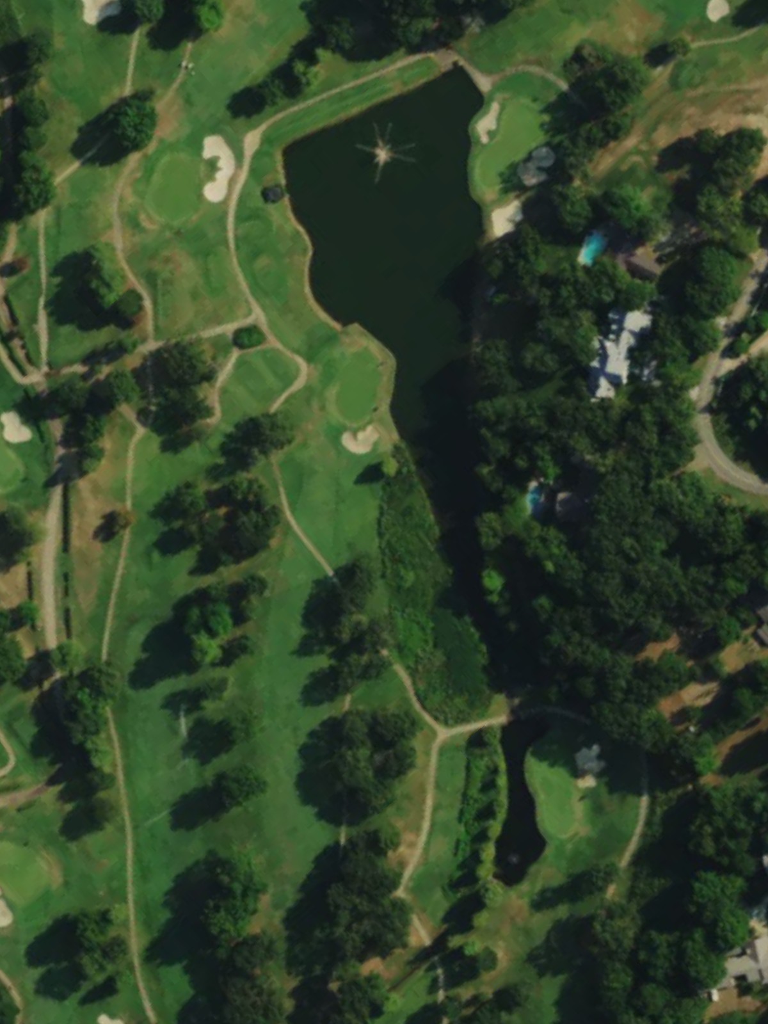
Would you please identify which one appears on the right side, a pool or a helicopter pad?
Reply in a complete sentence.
What appears on the right side is a pool.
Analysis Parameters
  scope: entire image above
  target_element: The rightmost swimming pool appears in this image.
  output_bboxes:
[581,231,607,263]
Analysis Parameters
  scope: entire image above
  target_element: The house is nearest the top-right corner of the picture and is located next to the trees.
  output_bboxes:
[616,245,664,282]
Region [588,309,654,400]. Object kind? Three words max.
house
